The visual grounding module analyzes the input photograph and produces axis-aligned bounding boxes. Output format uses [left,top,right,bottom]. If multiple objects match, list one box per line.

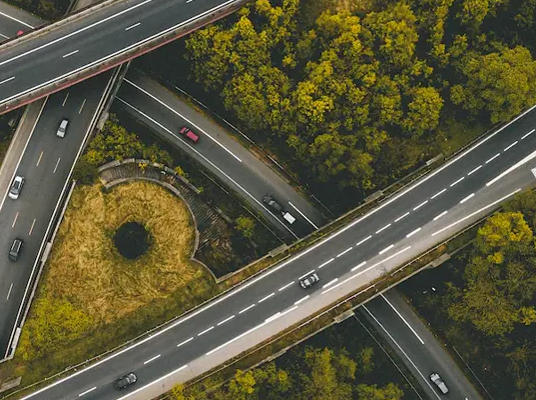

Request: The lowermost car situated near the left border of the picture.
[7,237,23,262]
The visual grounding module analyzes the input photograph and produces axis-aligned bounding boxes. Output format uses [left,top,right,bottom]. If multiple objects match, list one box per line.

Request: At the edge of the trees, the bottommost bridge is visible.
[193,152,467,393]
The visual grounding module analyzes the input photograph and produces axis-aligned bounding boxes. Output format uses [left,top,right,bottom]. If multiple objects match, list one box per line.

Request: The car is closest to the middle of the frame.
[261,193,283,213]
